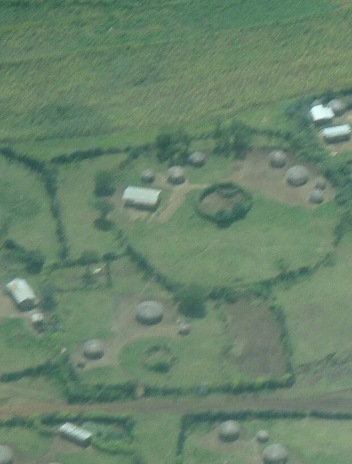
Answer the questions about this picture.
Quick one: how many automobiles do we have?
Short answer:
0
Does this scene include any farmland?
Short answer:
Yes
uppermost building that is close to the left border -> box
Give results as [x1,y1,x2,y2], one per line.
[5,278,36,311]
